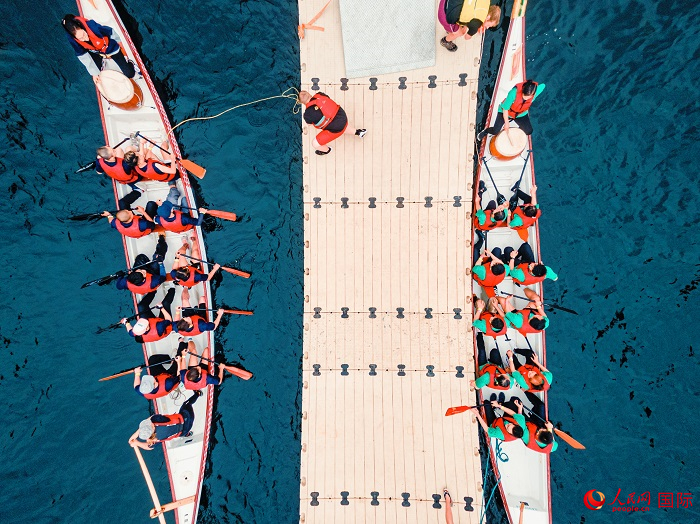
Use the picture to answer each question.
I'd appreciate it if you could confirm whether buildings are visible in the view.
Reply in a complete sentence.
No, there's no building here.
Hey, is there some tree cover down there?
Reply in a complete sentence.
No, tree cover can't be seen anywhere here.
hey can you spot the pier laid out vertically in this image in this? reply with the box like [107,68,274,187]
[297,0,487,524]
